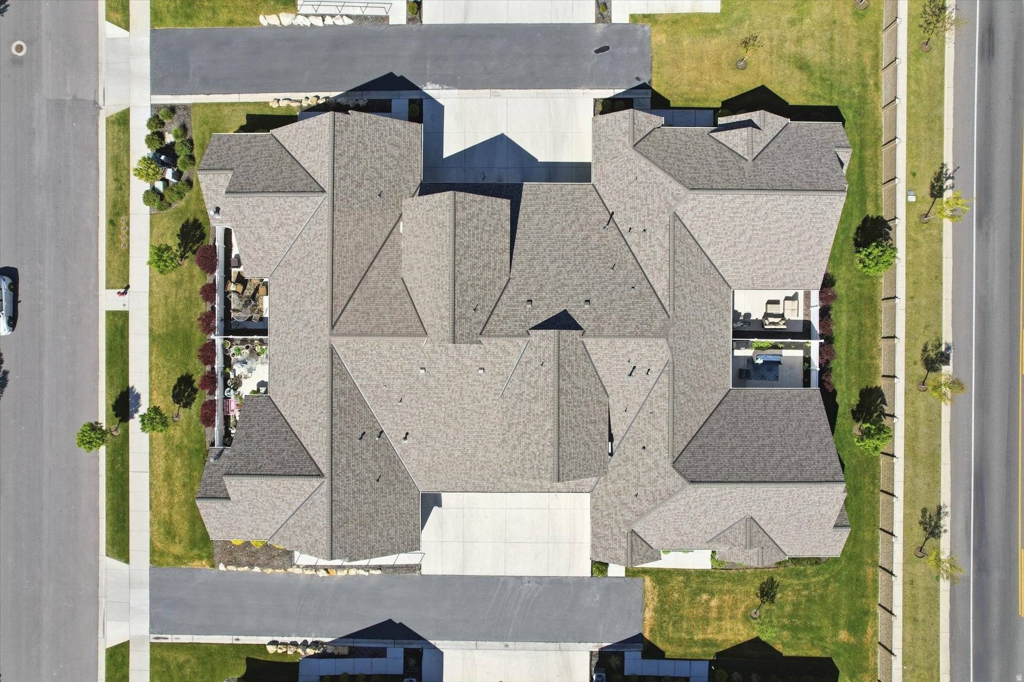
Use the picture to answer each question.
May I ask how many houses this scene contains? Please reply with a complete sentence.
Just 1 house appears in this view.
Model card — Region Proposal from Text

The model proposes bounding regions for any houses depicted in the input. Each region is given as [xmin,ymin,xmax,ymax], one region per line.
[197,109,852,567]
